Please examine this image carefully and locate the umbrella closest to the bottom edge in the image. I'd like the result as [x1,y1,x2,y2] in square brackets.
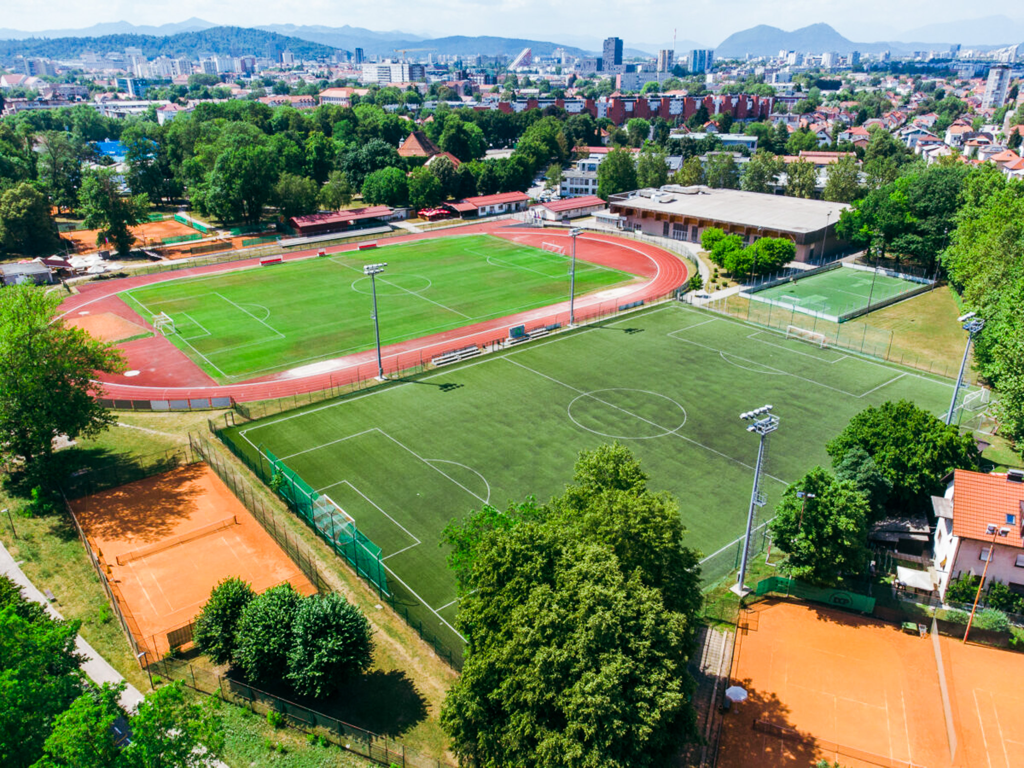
[725,683,753,714]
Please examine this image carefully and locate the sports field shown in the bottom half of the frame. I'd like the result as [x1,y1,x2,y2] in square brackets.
[217,300,1005,659]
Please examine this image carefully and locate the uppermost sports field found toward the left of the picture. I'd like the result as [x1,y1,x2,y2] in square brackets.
[104,233,647,388]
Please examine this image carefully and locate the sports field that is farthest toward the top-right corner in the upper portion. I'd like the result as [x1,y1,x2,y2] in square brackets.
[748,266,925,317]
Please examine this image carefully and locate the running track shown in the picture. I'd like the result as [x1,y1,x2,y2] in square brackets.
[4,228,686,413]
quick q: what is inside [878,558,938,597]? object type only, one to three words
gazebo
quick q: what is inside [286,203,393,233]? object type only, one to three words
shed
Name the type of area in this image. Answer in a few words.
sports ground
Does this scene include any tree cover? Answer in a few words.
Yes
